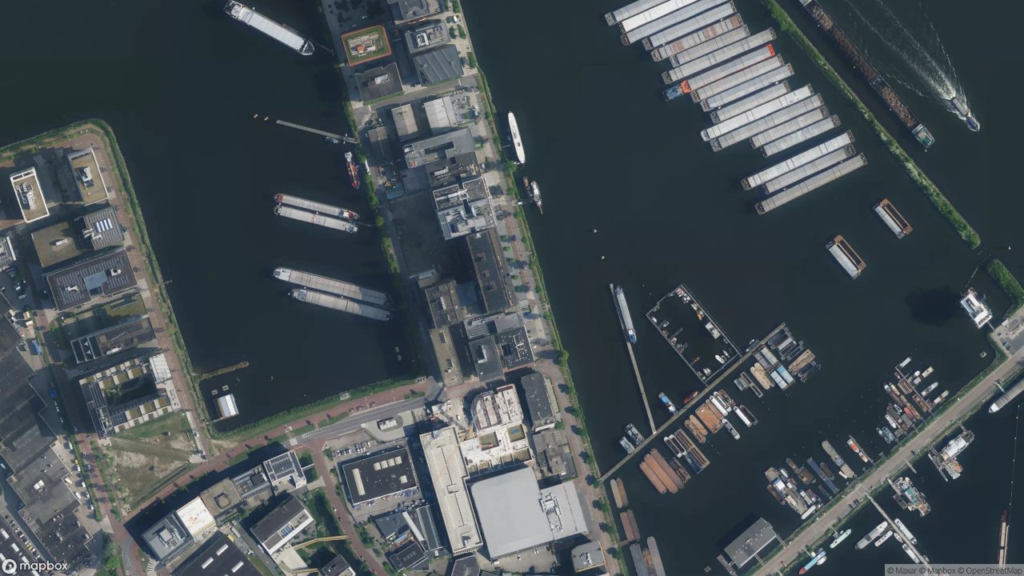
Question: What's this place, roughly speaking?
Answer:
port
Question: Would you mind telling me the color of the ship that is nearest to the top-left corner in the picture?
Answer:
white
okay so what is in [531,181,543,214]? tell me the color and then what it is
white ship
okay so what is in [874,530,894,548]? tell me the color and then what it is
white boat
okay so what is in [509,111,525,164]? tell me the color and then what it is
white ship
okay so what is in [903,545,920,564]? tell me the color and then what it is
white boat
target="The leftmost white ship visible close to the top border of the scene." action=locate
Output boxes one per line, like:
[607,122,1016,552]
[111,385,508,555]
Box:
[224,0,314,54]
